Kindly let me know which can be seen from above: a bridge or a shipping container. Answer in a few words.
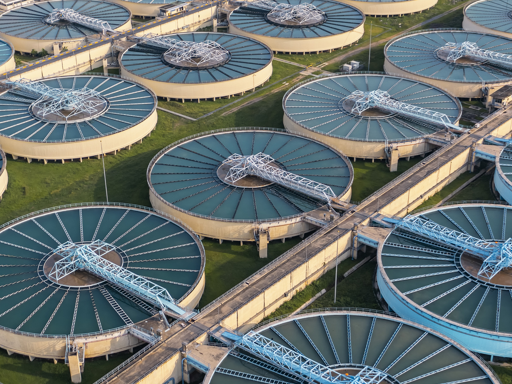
bridge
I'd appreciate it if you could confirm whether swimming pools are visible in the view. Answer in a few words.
No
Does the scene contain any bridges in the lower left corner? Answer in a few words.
Yes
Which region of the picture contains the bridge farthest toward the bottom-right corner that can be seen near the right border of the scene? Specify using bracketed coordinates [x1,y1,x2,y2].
[380,215,502,261]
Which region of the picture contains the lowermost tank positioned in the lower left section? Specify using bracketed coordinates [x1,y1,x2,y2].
[0,202,206,384]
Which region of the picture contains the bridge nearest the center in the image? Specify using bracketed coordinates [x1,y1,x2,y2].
[249,156,350,208]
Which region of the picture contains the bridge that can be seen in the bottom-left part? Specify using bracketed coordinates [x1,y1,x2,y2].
[78,246,188,317]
